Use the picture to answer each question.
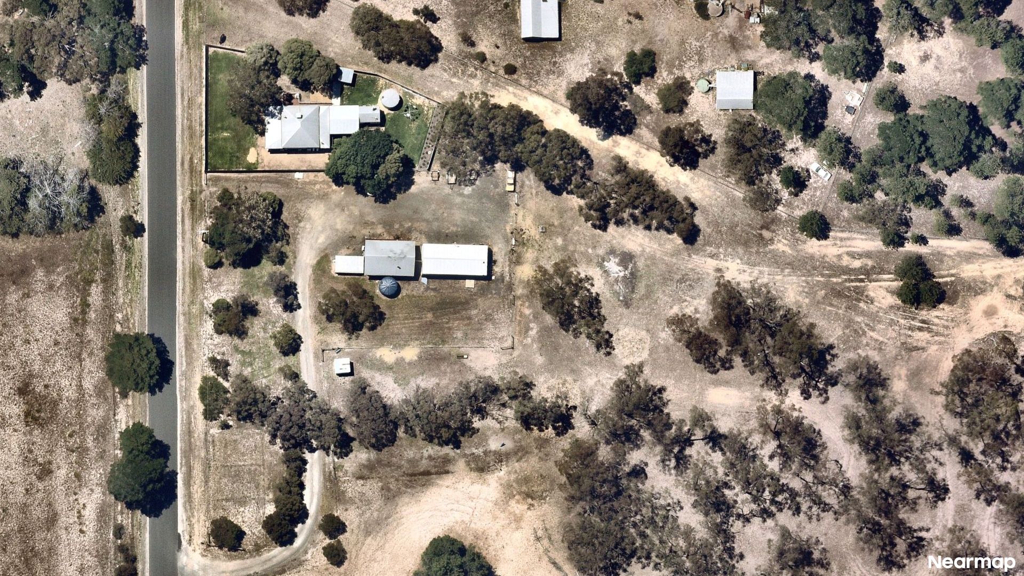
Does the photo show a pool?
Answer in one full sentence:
No, I find no pool anywhere in the image.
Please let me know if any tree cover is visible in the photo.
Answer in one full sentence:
Yes, the picture does contain tree cover.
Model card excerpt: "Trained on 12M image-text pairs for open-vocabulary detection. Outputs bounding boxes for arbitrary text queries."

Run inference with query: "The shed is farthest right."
[717,70,753,113]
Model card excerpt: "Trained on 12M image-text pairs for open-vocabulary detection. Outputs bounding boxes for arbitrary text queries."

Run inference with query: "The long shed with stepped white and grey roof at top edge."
[521,0,558,39]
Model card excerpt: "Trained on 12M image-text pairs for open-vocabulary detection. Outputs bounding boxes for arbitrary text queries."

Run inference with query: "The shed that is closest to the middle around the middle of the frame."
[422,244,488,276]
